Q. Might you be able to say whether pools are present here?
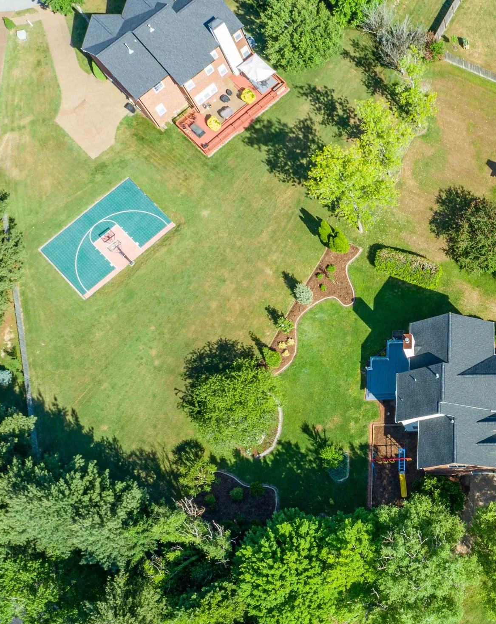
No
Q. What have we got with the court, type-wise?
basketball court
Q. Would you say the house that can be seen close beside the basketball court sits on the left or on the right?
left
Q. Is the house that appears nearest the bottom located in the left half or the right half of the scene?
right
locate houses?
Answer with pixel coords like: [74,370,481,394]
[82,0,253,121]
[395,315,496,471]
